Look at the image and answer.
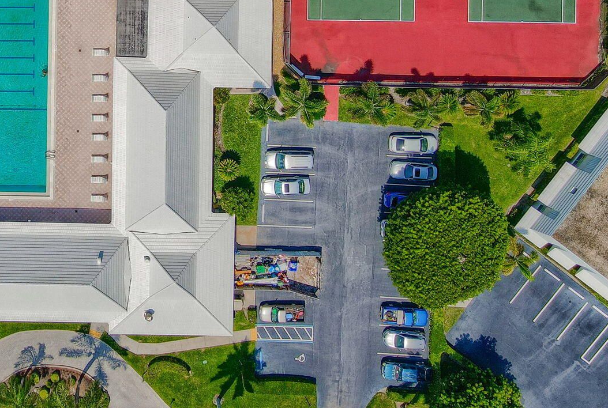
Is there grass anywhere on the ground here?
Yes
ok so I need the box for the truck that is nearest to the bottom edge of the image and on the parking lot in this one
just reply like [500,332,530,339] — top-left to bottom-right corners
[382,358,433,381]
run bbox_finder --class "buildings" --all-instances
[0,0,273,337]
[518,101,608,297]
